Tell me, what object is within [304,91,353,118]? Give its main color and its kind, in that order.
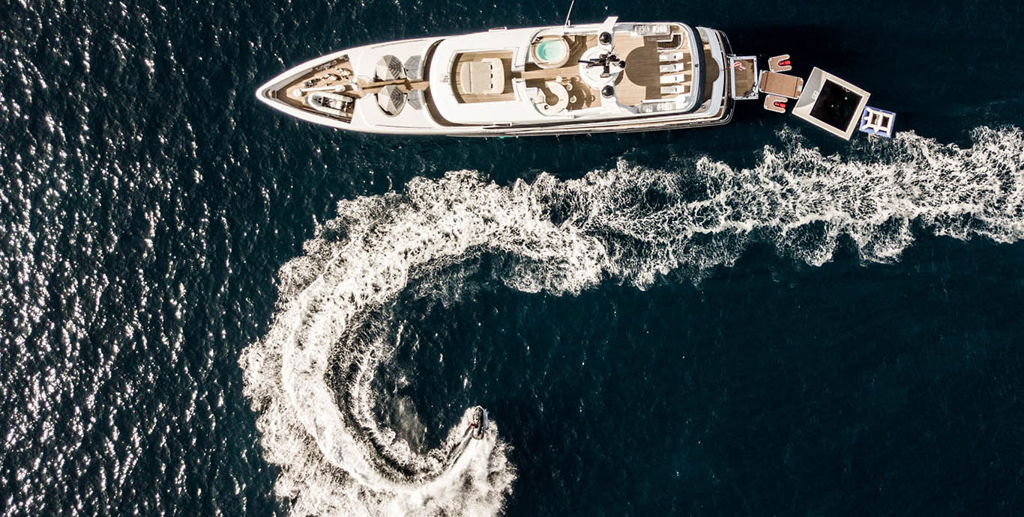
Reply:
white boat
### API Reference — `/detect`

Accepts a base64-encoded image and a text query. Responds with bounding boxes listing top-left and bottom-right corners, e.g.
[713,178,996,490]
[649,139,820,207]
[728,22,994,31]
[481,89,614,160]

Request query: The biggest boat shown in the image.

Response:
[254,2,736,139]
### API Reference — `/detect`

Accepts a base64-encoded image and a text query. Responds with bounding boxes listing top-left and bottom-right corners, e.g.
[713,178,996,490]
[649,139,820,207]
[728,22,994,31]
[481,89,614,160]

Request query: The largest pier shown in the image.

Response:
[732,53,758,100]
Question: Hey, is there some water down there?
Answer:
Yes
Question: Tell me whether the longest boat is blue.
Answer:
No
